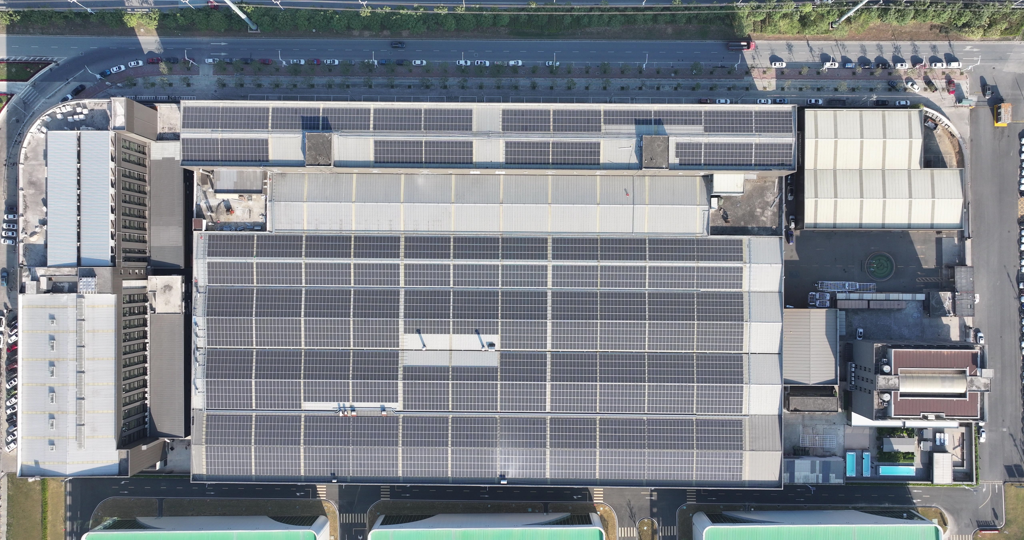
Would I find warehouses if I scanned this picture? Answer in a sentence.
Yes, the frame does contain a warehouse.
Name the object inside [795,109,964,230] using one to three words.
warehouse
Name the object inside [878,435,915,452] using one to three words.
building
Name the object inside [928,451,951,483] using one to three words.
building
